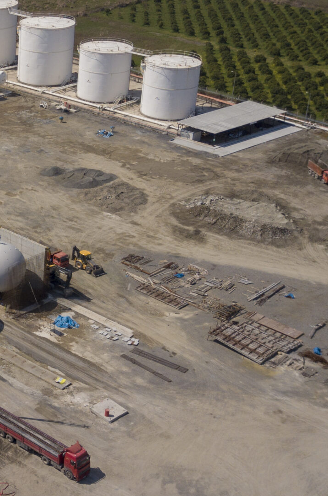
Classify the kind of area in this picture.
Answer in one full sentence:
What you see here is an industrial area.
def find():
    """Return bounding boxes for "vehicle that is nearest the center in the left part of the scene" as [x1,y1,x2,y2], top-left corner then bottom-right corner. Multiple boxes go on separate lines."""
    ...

[71,242,110,280]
